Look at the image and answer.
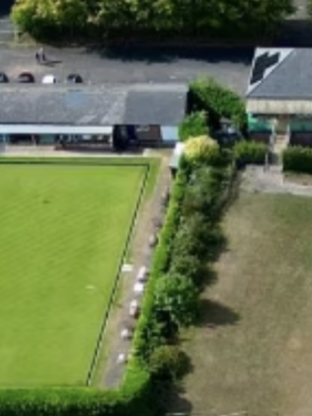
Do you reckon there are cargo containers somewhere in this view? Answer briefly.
No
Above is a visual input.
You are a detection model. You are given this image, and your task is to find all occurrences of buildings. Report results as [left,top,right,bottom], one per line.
[0,83,198,157]
[246,41,312,168]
